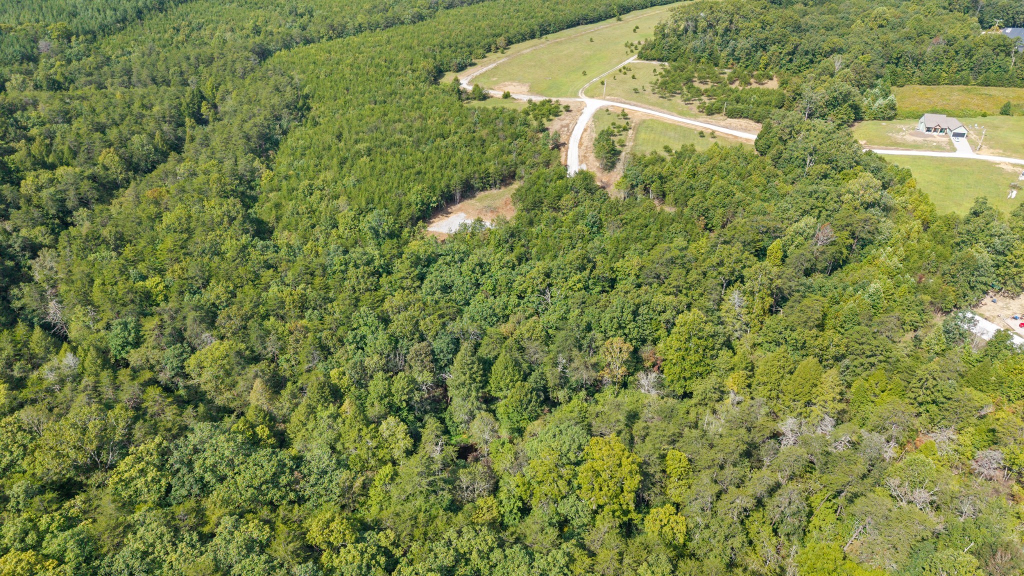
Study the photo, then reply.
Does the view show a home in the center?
No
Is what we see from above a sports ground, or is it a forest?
forest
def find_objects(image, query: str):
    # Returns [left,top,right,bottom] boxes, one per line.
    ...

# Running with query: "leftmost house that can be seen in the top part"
[920,114,969,139]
